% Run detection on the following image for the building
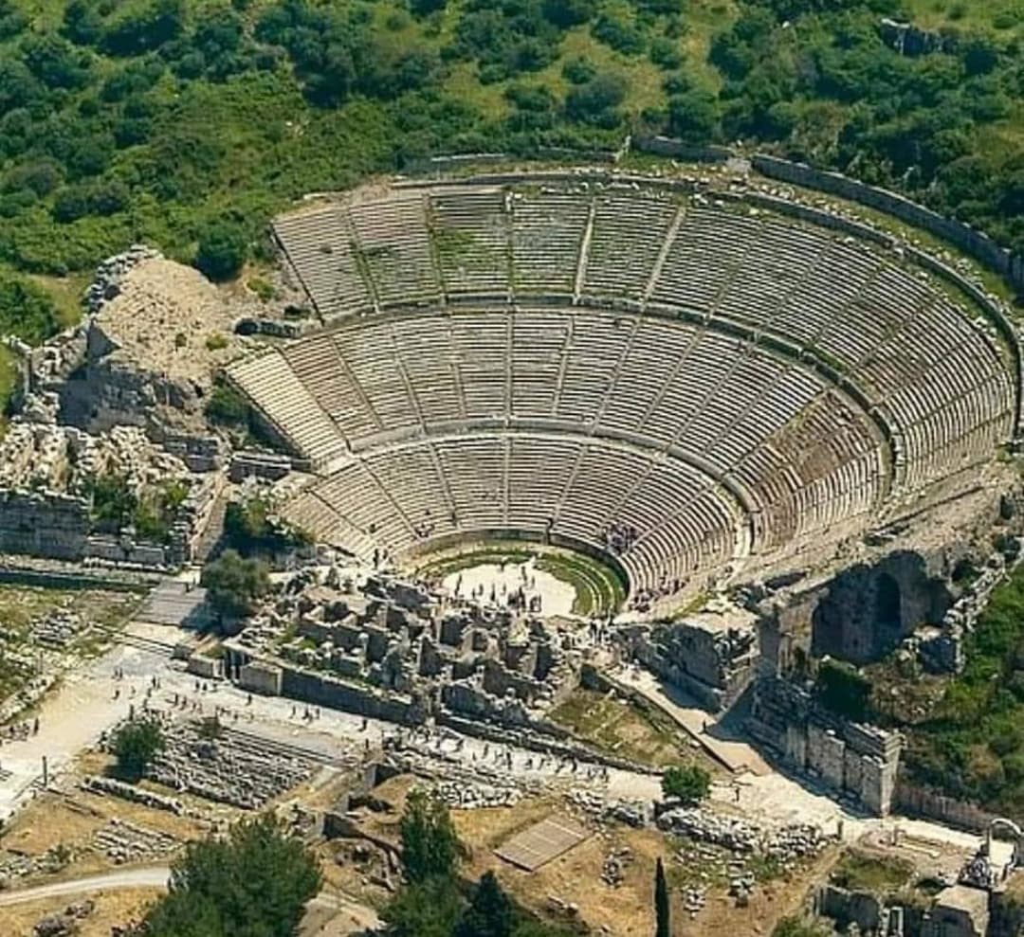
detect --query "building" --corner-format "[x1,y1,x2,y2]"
[236,581,573,746]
